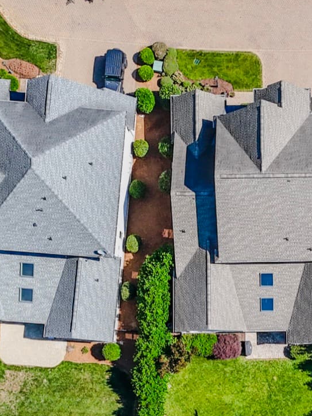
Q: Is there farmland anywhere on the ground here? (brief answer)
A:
No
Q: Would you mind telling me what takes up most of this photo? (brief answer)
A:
buildings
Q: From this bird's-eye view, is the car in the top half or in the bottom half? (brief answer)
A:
top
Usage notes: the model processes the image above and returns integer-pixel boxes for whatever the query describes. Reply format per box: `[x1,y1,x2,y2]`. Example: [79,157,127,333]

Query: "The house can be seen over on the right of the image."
[168,81,312,344]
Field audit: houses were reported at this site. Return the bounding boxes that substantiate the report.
[0,75,143,343]
[168,81,312,344]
